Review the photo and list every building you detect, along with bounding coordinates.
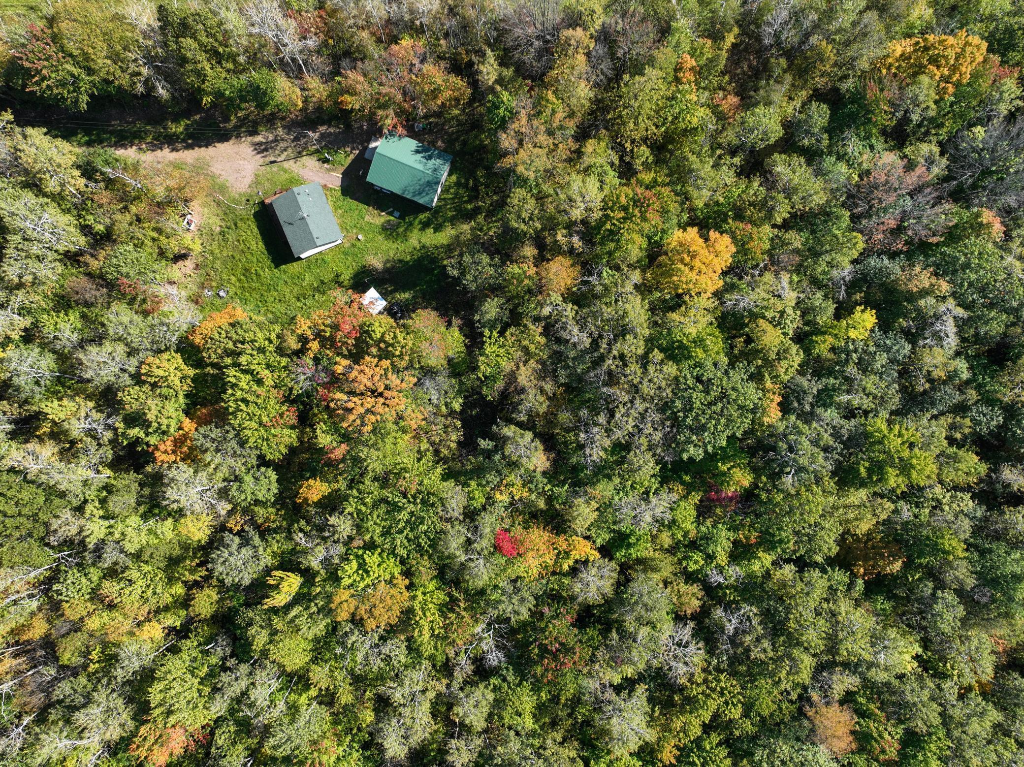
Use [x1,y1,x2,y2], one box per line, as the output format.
[366,131,452,210]
[361,287,388,315]
[262,181,345,260]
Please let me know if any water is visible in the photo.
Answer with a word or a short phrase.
No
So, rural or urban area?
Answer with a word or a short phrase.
rural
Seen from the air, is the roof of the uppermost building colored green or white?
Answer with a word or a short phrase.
green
